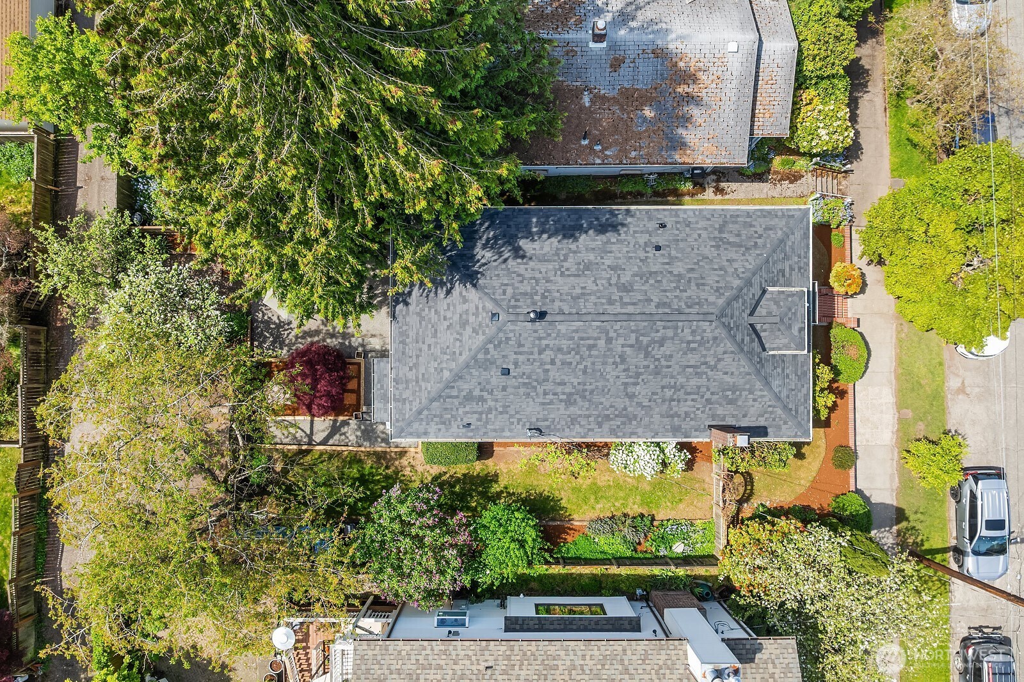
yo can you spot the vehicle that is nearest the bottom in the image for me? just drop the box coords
[952,616,1017,682]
